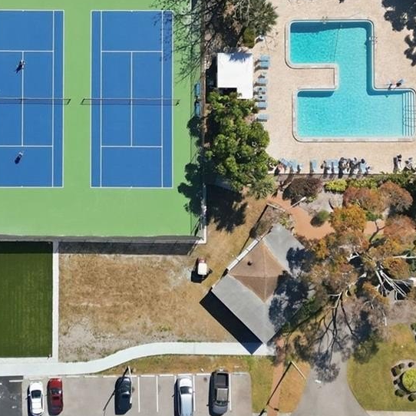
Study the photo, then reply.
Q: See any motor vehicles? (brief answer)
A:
Yes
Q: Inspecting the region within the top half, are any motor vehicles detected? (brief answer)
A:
No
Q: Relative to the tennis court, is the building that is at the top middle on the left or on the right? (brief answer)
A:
on the right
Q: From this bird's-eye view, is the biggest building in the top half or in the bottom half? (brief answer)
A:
bottom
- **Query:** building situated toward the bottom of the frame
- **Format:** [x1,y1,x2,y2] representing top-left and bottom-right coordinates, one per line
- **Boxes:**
[212,224,327,343]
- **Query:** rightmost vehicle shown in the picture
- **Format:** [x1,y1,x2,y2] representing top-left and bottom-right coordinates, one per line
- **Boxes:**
[211,369,230,412]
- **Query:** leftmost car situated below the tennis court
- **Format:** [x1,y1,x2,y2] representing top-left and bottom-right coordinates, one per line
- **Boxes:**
[28,380,44,416]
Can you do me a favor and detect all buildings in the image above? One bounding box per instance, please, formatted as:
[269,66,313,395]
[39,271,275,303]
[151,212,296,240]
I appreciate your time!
[212,224,327,343]
[217,54,253,98]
